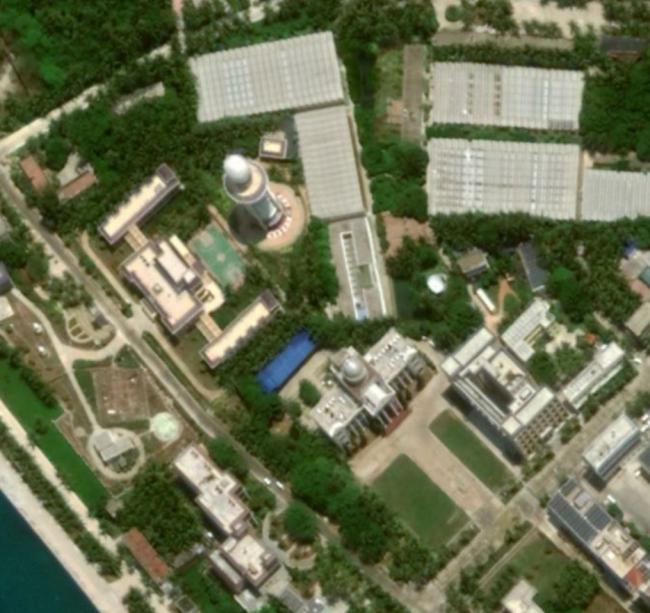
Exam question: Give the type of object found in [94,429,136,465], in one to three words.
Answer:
building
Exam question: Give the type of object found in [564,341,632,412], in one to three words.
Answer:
building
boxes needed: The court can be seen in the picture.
[189,223,246,289]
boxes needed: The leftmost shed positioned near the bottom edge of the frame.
[124,529,170,583]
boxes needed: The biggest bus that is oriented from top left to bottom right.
[475,286,495,312]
